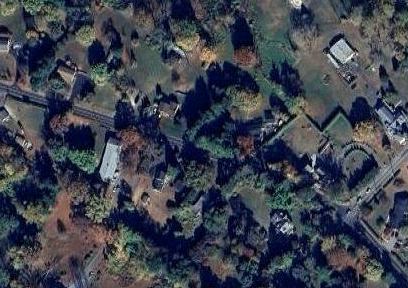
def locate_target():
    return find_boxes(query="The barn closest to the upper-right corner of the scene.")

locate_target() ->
[330,39,357,68]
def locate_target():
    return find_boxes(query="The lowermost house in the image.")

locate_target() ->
[267,212,296,235]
